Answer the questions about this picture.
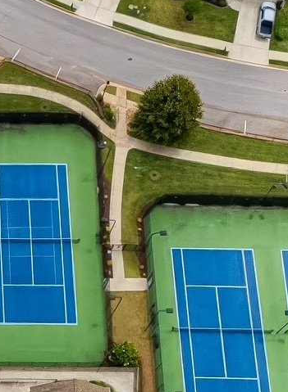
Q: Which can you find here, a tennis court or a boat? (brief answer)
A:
tennis court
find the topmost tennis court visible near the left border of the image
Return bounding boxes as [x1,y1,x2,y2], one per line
[0,124,105,355]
